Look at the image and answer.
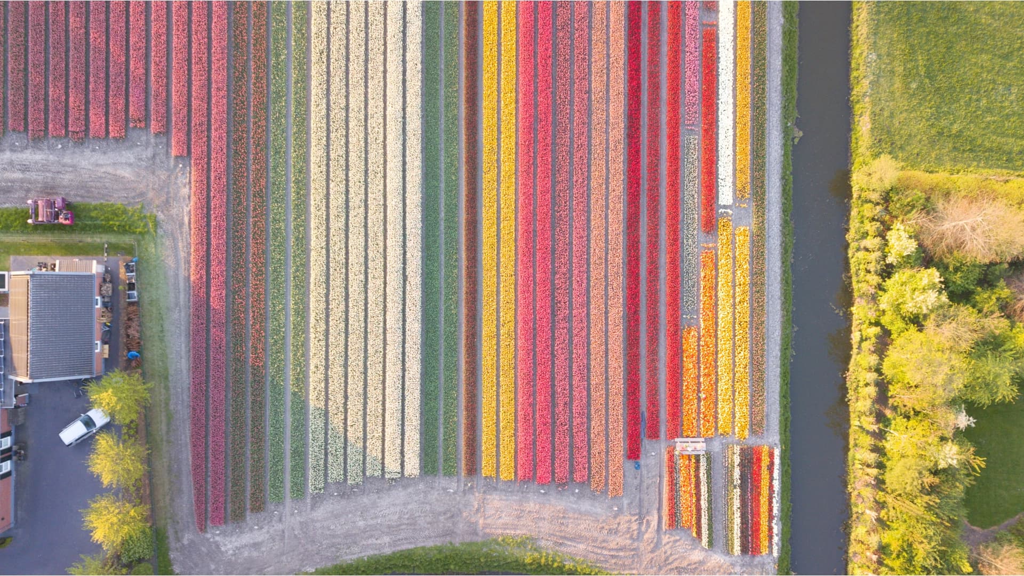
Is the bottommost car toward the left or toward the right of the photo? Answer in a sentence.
You can find the bottommost car on the left side of the picture.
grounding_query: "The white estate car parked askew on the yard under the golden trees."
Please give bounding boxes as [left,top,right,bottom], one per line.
[57,407,115,449]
